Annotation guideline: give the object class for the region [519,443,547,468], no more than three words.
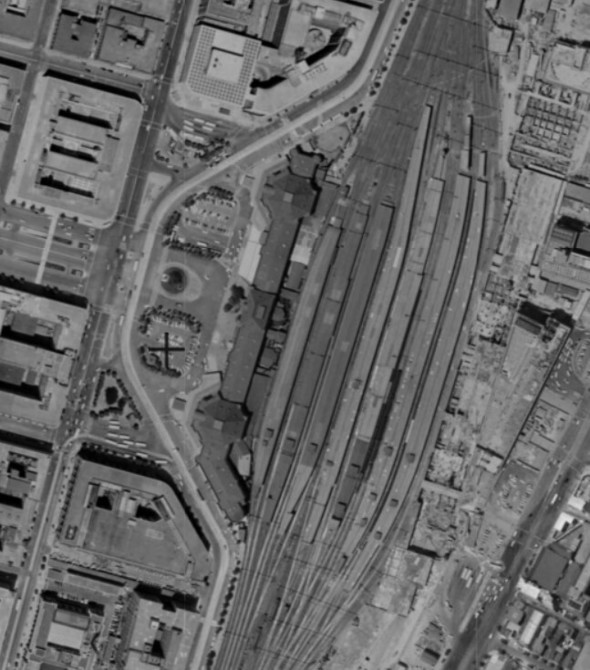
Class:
house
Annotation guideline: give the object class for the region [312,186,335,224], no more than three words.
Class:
shed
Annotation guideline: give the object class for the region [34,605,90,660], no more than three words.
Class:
building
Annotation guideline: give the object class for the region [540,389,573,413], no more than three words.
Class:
house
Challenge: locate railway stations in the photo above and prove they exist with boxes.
[193,152,319,521]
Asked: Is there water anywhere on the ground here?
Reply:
No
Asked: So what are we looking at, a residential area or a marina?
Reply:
residential area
